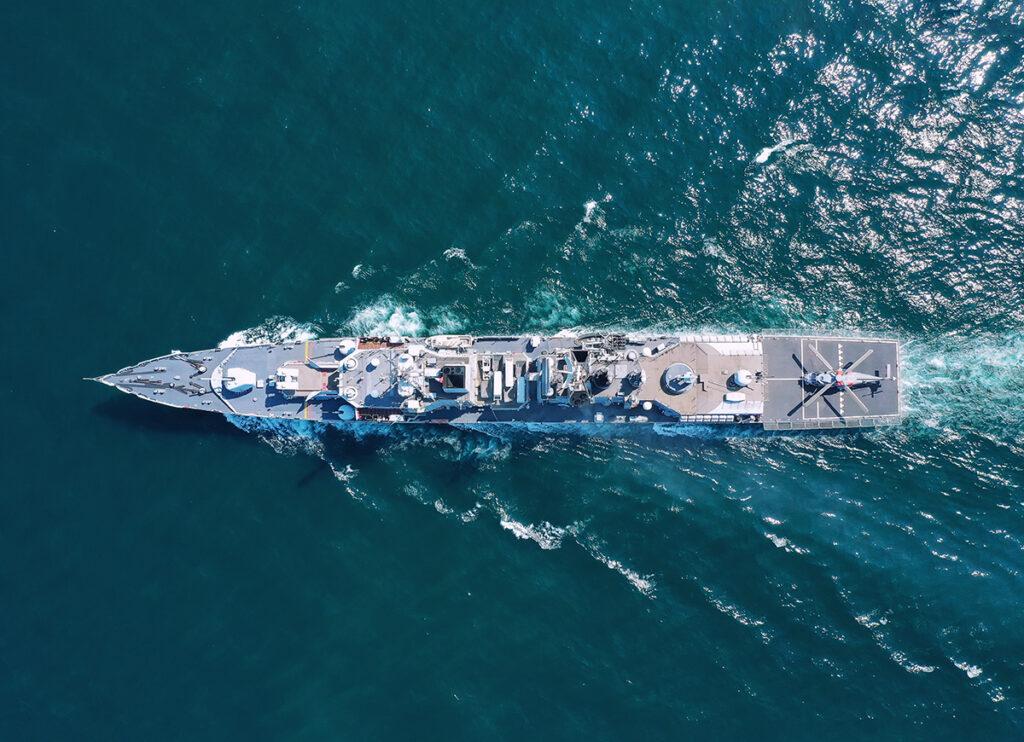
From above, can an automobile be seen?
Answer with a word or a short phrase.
No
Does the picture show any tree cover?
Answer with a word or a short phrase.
No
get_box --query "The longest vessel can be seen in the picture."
[84,329,904,430]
